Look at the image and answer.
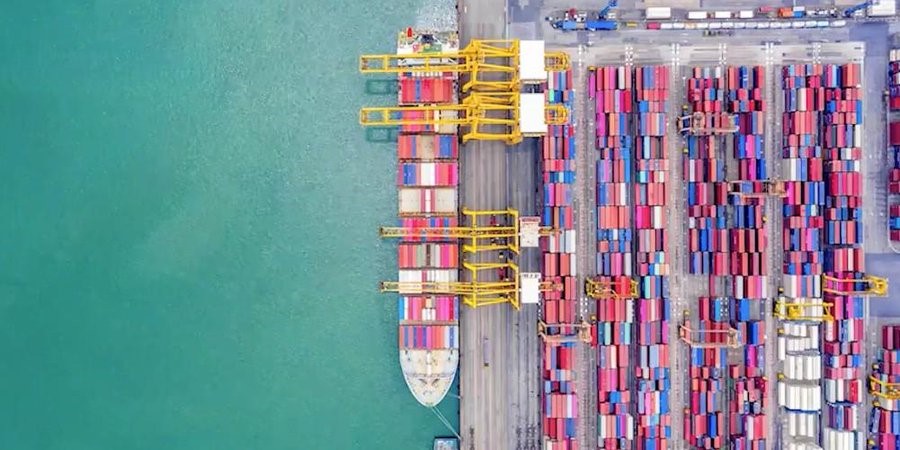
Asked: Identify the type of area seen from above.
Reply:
port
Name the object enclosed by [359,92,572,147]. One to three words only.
container crane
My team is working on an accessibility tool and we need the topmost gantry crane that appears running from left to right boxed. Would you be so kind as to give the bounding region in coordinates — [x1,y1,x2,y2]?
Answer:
[359,40,572,95]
